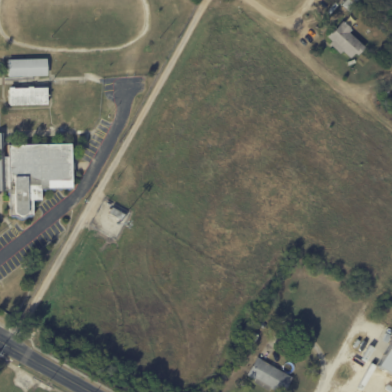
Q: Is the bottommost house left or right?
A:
right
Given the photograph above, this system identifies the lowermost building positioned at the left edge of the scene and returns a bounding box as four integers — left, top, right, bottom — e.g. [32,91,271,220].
[4,144,74,219]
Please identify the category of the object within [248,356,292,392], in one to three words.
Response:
house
